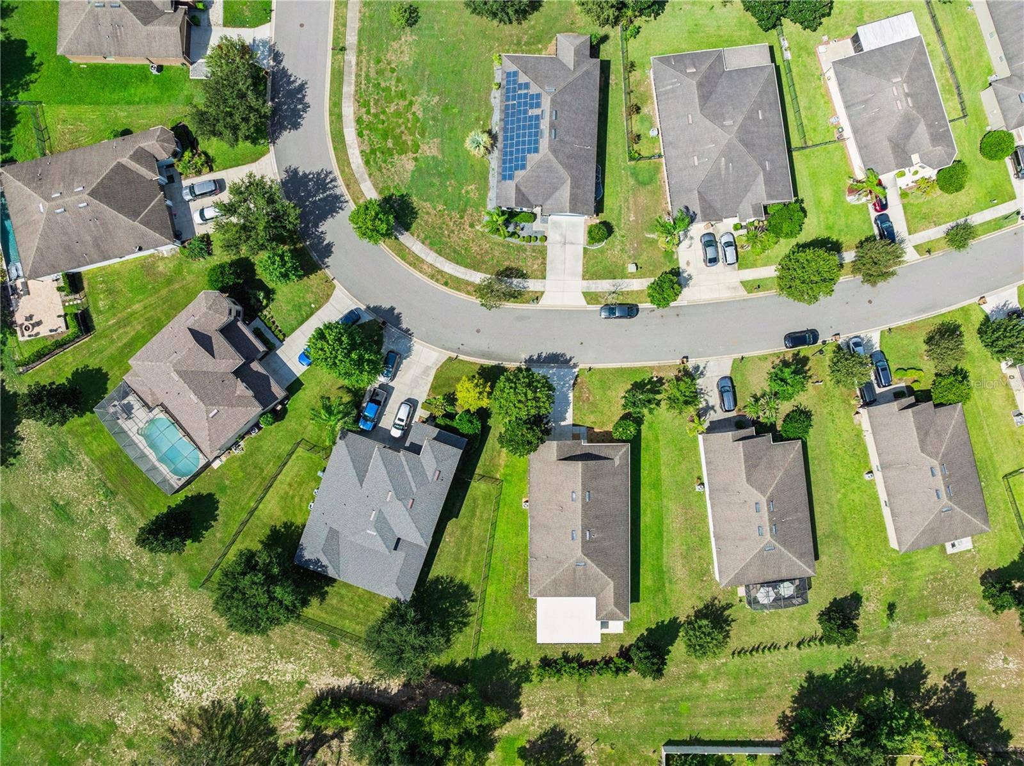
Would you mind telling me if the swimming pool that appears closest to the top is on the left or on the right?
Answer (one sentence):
It is on the left.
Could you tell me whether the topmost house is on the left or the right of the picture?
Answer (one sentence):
The topmost house is on the left side of the image.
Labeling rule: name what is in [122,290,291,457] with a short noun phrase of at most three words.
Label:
house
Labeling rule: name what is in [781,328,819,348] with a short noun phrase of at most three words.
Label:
car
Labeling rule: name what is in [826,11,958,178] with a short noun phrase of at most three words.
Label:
house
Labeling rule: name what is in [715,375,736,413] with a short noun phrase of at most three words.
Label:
car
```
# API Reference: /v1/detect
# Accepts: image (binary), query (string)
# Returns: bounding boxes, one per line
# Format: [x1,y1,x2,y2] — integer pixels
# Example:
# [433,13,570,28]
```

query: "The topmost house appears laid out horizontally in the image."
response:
[57,0,194,65]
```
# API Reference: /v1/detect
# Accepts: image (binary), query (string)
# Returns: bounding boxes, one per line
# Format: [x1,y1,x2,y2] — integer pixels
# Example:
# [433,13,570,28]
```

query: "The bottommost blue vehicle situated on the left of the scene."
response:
[361,385,387,431]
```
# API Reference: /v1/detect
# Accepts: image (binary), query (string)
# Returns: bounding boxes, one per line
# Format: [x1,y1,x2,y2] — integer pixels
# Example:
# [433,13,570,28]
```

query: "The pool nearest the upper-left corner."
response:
[0,188,20,264]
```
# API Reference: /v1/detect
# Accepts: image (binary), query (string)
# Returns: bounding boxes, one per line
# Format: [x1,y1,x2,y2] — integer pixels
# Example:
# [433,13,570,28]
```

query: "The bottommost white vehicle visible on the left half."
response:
[390,400,414,438]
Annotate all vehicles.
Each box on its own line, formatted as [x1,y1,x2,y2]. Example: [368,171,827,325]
[600,303,637,320]
[183,178,221,201]
[1009,142,1024,189]
[871,213,897,249]
[870,195,888,216]
[857,377,881,408]
[379,347,403,385]
[194,205,231,225]
[870,350,894,389]
[717,230,738,268]
[844,331,865,369]
[715,375,736,413]
[390,400,414,438]
[699,231,719,269]
[781,328,819,348]
[361,385,387,431]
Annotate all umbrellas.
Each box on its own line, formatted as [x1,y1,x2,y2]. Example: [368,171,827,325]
[755,584,775,603]
[777,580,794,598]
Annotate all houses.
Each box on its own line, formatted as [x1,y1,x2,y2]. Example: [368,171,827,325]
[294,422,468,600]
[1006,362,1024,433]
[971,0,1024,134]
[860,395,991,554]
[528,439,630,643]
[700,426,816,588]
[57,0,194,65]
[495,33,601,217]
[0,126,183,278]
[650,44,794,224]
[826,11,958,178]
[122,290,291,457]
